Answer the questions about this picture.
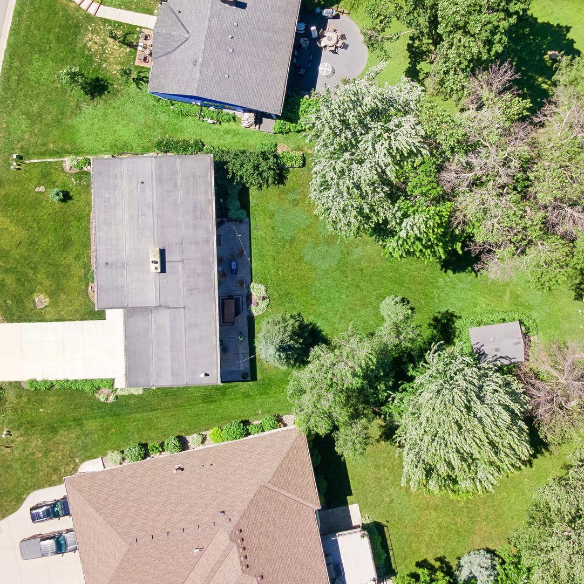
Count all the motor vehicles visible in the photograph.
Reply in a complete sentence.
There are 2 motor vehicles in the image.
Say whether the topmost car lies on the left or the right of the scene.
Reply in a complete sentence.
The topmost car appears in the left half of the scene.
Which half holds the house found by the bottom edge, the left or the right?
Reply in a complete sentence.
The house found by the bottom edge appears in the left half of the scene.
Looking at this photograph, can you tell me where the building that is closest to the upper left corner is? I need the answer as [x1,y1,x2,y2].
[149,0,302,117]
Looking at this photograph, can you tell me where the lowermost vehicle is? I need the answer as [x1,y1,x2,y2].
[21,529,78,561]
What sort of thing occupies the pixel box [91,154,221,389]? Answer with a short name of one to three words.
house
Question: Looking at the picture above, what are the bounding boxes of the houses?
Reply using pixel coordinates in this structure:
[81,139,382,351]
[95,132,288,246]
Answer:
[149,0,302,117]
[91,154,221,389]
[63,425,330,584]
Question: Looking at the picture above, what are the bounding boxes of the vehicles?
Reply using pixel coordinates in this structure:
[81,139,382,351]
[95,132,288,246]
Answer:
[30,499,71,525]
[21,529,78,561]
